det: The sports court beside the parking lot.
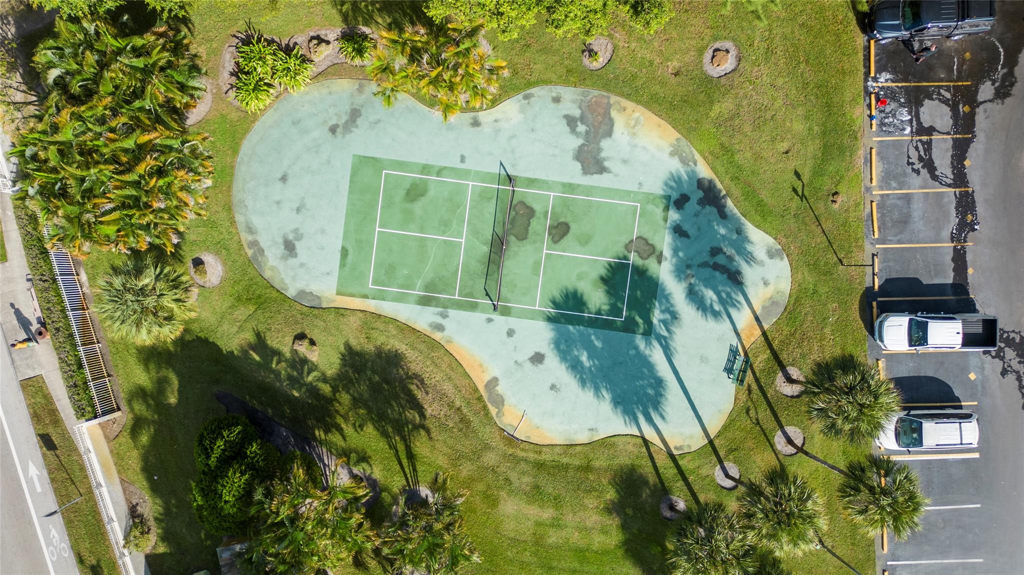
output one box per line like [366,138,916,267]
[232,78,791,454]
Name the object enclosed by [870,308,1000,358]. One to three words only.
truck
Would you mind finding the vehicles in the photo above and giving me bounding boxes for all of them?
[869,407,979,456]
[863,0,996,41]
[870,308,1000,358]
